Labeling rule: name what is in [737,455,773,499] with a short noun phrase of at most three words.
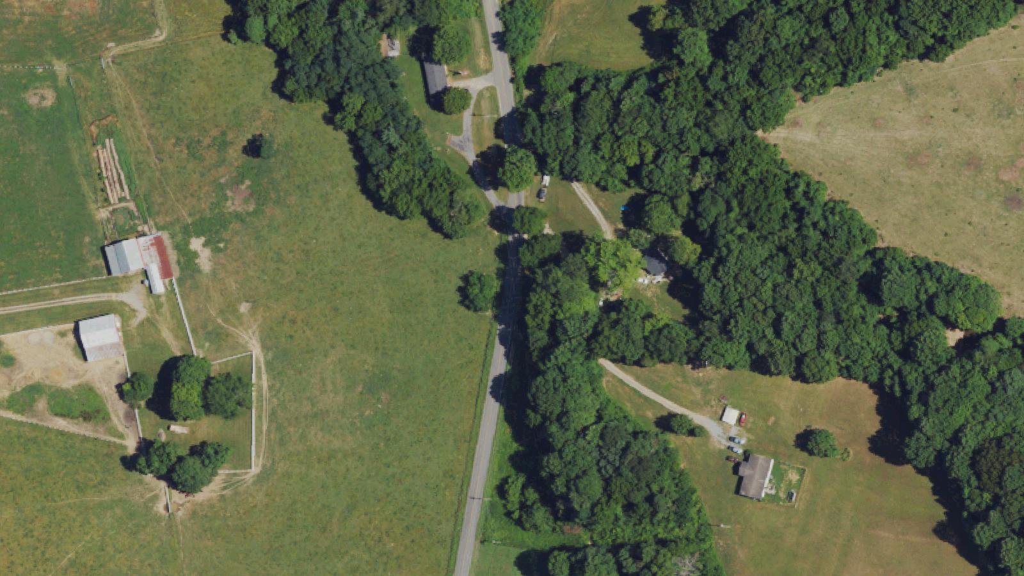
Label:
house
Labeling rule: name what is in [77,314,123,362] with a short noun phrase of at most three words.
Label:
barn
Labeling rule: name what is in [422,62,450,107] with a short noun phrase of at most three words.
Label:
house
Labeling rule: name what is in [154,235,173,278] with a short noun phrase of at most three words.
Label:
shed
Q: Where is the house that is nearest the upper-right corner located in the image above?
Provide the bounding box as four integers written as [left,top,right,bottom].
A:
[642,255,666,276]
